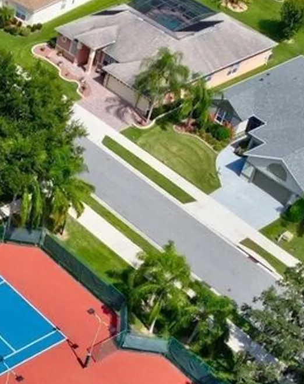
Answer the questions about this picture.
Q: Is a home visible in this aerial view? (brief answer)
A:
Yes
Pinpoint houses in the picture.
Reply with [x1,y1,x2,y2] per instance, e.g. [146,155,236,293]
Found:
[0,0,90,24]
[205,55,304,206]
[56,2,278,114]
